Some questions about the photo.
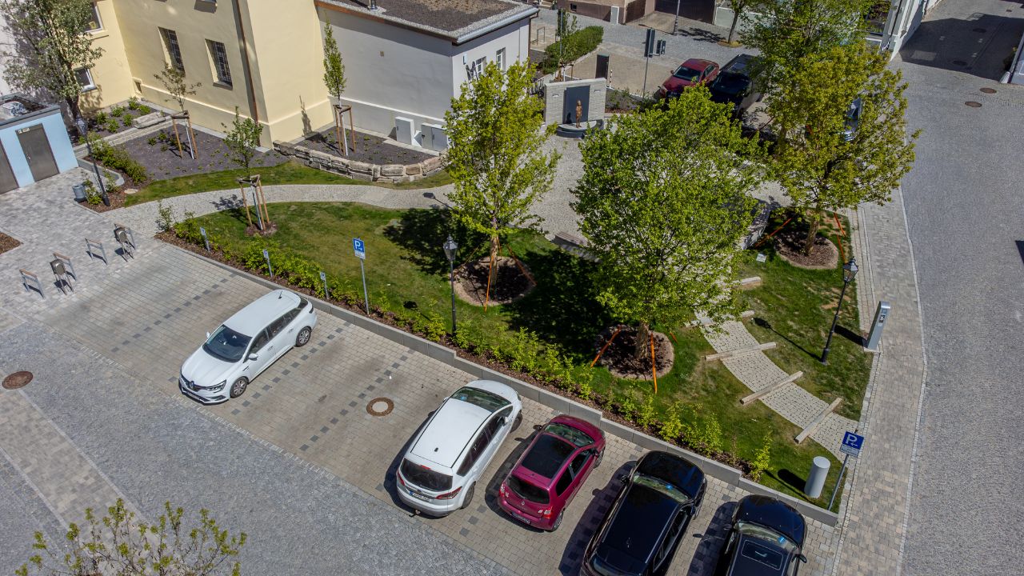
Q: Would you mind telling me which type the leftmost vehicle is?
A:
car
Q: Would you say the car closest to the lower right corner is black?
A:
Yes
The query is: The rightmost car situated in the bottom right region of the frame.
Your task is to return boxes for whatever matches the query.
[698,491,810,576]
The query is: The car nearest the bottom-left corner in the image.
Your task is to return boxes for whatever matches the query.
[177,293,317,404]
